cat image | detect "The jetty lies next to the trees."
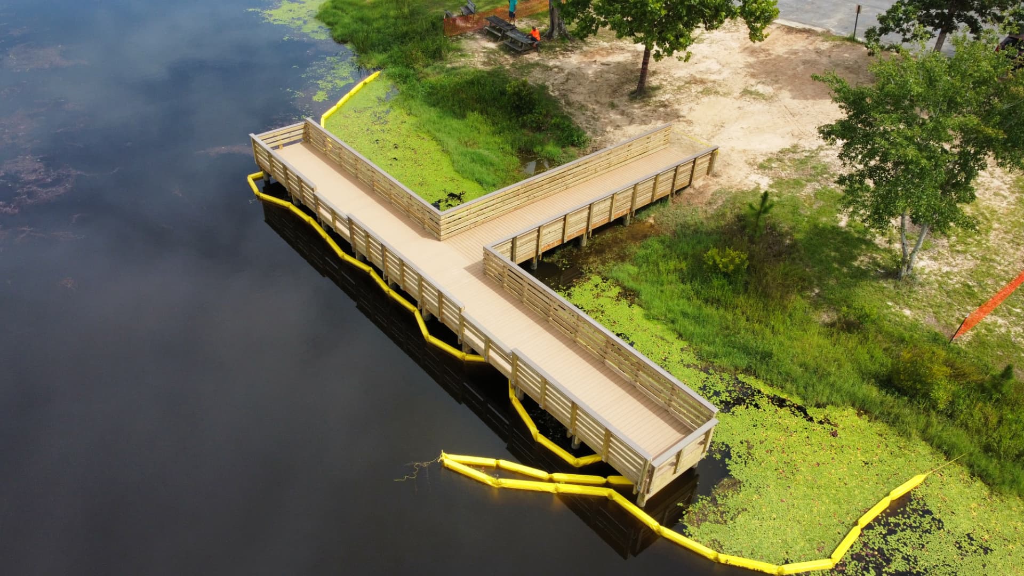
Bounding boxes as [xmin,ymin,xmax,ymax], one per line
[249,118,720,505]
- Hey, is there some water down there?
Yes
